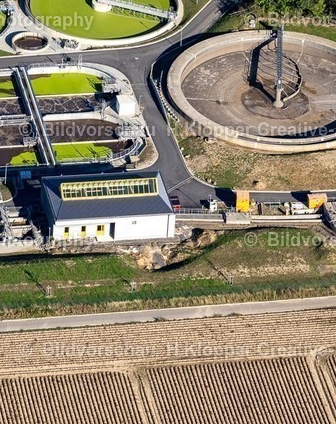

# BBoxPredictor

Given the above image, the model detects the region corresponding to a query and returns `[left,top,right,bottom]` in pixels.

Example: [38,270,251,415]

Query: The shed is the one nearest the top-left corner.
[115,93,137,116]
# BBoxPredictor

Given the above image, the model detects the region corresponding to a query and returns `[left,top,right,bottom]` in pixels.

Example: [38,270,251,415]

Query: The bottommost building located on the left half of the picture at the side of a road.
[46,171,176,243]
